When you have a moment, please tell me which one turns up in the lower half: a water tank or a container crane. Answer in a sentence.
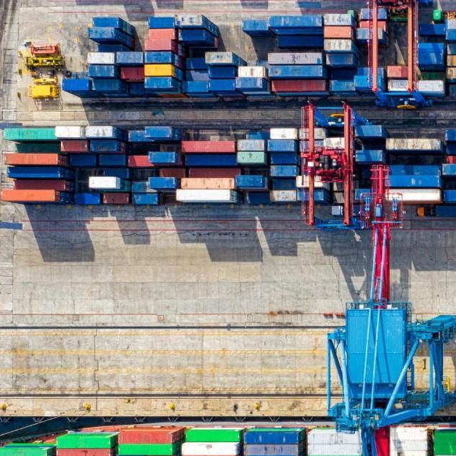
The feature located in the lower half is a container crane.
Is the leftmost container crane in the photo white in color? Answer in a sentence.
No, the color of the leftmost container crane is red.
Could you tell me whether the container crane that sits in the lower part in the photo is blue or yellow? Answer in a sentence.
The container crane that sits in the lower part looks blue in the image.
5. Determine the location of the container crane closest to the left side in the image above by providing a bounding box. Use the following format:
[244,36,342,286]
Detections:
[303,102,374,229]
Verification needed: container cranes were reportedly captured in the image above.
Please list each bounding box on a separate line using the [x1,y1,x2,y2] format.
[366,0,433,112]
[303,102,374,229]
[322,164,456,456]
